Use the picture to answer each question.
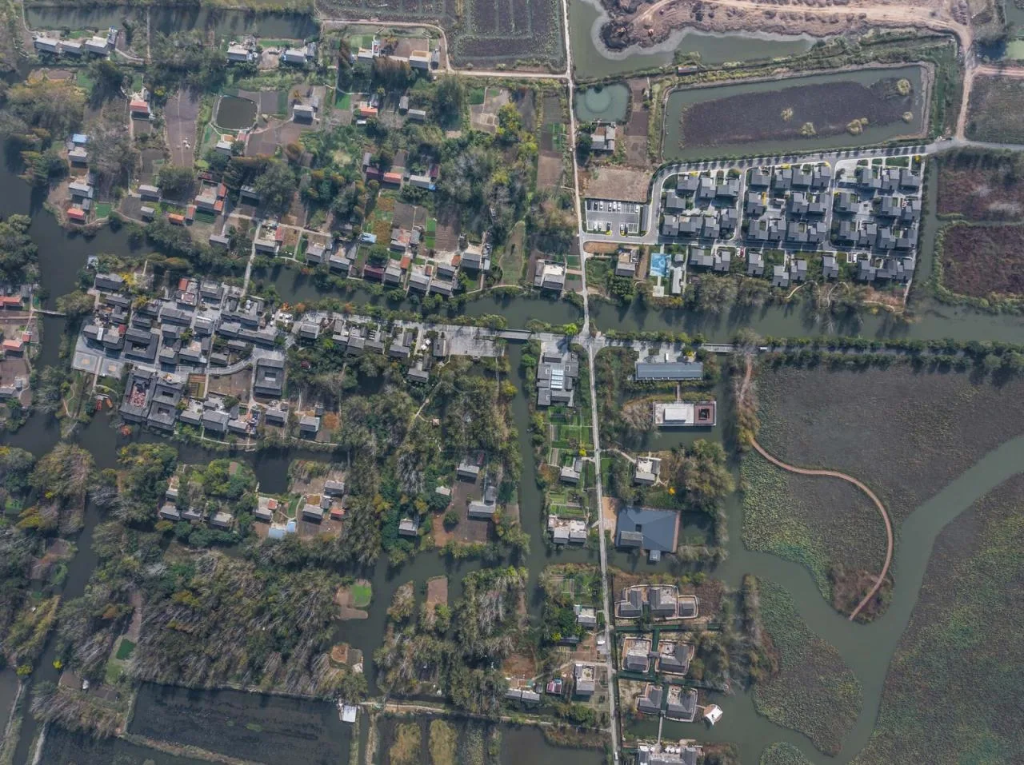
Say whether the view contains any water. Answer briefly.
Yes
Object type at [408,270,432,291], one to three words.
house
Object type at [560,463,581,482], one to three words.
house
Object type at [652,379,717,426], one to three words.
building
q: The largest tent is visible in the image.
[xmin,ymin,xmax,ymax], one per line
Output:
[704,705,725,727]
